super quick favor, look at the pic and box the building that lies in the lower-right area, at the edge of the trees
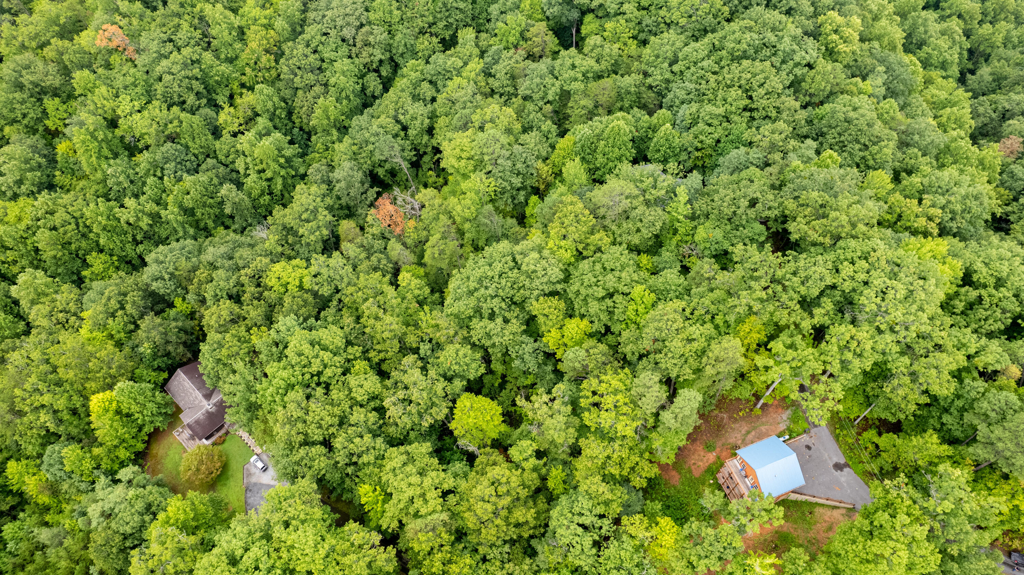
[712,435,806,508]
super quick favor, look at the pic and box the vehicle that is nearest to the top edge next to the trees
[251,456,267,472]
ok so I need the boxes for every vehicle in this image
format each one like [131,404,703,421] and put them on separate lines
[1013,554,1024,565]
[251,456,267,472]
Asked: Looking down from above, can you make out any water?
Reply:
No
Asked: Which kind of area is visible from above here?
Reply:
forest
